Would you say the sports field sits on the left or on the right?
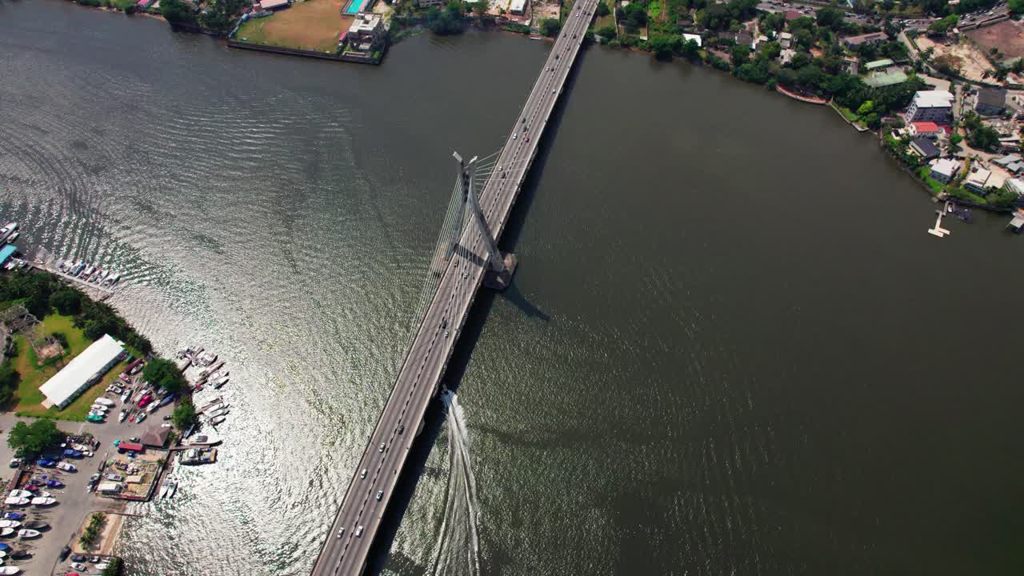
left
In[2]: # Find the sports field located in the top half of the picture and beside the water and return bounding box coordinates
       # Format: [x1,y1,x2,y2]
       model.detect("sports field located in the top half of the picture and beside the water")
[231,0,352,57]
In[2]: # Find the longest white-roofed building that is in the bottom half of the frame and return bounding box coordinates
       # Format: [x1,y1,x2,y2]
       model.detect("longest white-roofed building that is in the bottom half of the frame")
[41,335,128,408]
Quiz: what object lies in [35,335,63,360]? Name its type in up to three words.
building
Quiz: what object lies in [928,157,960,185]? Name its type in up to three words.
house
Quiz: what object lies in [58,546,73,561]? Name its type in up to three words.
vehicle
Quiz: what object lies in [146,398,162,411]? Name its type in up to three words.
boat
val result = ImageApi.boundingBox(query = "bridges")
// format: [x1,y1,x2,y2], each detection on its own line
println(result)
[311,0,598,576]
